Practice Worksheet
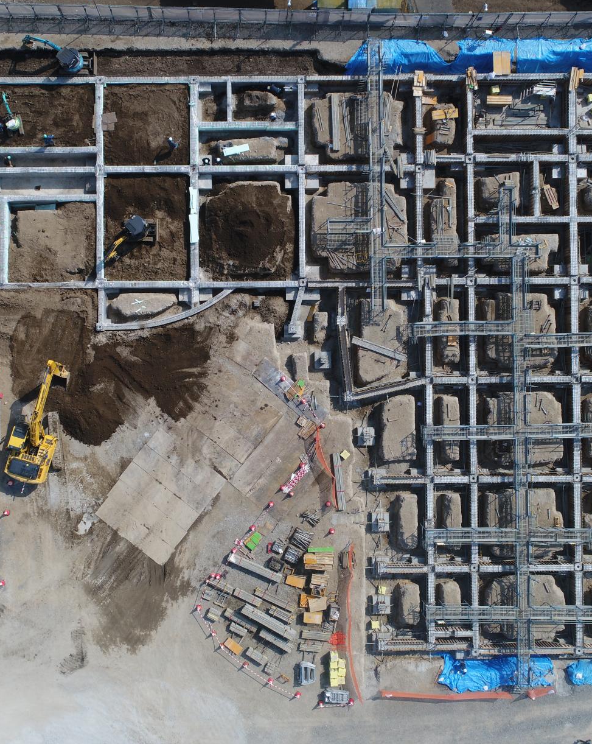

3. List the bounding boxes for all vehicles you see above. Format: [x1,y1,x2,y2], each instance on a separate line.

[104,214,165,270]
[23,29,94,76]
[0,356,76,486]
[0,88,33,137]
